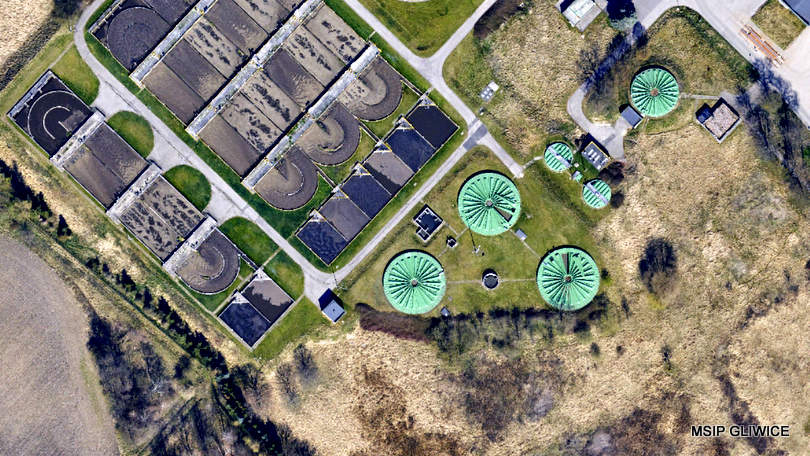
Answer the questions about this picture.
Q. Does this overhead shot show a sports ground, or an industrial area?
industrial area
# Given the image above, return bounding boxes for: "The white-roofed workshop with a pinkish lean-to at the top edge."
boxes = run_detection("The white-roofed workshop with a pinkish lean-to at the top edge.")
[555,0,608,32]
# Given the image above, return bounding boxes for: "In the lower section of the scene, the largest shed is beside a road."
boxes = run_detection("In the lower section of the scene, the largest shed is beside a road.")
[320,300,347,325]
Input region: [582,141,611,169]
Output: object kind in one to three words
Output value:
building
